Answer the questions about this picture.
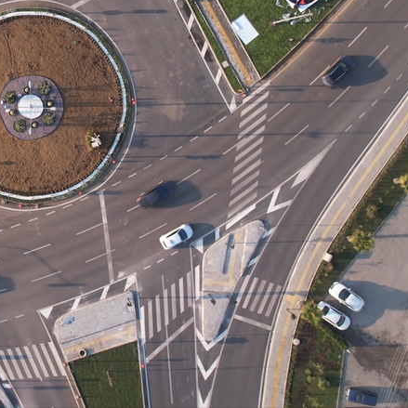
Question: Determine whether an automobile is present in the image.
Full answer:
Yes, there is an automobile in the image.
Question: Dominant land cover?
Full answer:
Most of the picture is covered by paved ground.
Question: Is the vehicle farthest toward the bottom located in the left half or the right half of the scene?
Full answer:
The vehicle farthest toward the bottom is on the right side of the image.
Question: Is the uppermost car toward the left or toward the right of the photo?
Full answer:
The uppermost car appears in the right half of the scene.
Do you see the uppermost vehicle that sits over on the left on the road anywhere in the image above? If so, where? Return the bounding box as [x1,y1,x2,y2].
[137,180,175,211]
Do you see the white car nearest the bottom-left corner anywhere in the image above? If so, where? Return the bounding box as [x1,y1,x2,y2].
[158,222,195,251]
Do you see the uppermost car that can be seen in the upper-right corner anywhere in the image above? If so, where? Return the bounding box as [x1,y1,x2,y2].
[319,54,355,90]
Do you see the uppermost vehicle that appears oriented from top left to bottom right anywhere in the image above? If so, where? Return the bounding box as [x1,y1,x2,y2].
[327,281,366,313]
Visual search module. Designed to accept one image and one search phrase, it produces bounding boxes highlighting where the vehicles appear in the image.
[327,281,366,313]
[344,385,380,407]
[137,180,175,211]
[158,222,195,251]
[319,54,355,90]
[316,298,351,333]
